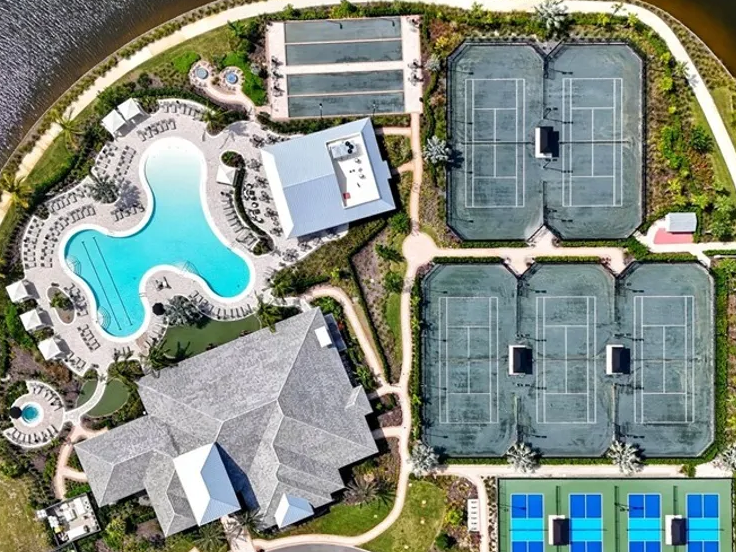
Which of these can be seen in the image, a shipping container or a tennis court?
tennis court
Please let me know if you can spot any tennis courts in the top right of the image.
Yes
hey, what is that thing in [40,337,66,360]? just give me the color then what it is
white tent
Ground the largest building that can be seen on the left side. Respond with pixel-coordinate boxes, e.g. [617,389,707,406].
[74,308,377,537]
